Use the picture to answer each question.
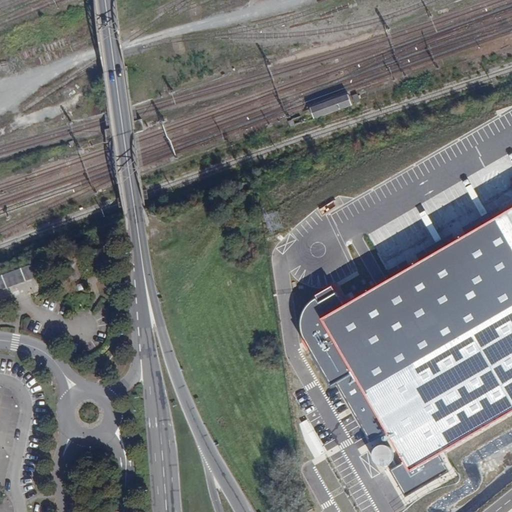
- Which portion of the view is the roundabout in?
bottom left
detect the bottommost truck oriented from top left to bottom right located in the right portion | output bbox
[420,210,444,246]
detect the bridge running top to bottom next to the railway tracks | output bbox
[93,0,148,206]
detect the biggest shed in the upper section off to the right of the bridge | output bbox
[310,94,352,118]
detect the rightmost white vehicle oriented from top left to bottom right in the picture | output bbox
[463,180,488,216]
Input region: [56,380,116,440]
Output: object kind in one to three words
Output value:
roundabout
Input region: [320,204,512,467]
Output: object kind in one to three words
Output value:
warehouse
